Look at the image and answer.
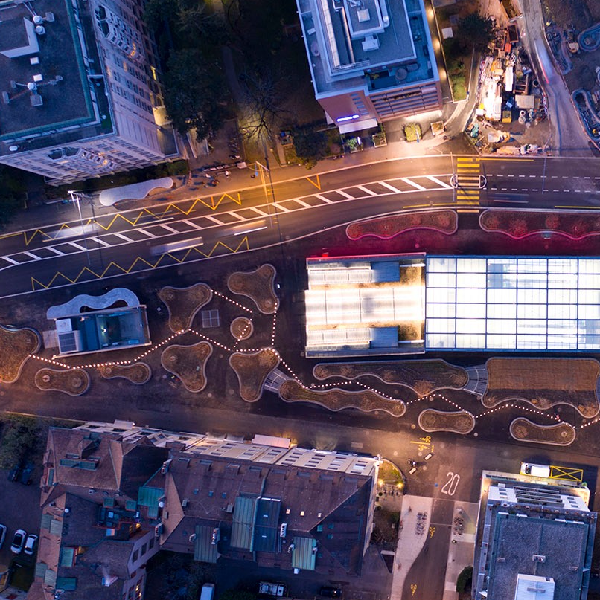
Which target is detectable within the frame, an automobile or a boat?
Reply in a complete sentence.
It is an automobile that can be seen here.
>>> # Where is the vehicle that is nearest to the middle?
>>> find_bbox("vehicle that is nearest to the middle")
[235,219,264,236]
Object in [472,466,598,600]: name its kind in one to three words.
house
